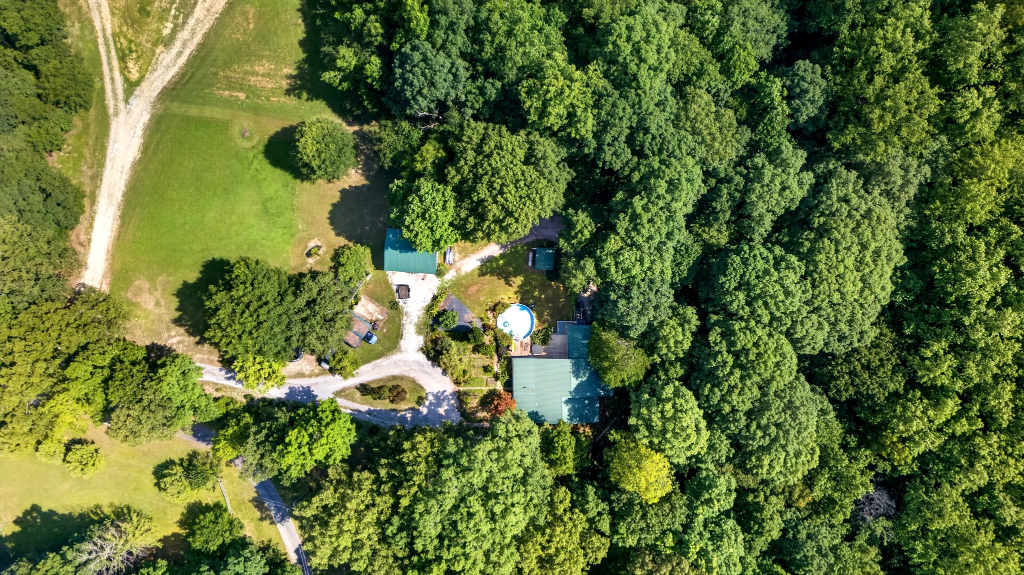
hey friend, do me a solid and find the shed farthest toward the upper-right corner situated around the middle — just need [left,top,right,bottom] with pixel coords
[534,247,554,270]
